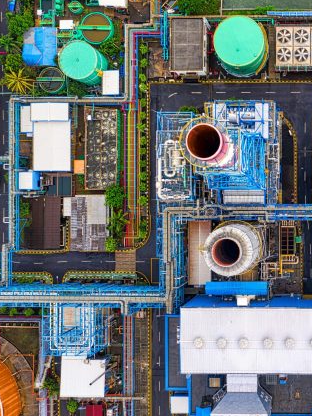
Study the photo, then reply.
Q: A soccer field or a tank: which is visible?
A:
tank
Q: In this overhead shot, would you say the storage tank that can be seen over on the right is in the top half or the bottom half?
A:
top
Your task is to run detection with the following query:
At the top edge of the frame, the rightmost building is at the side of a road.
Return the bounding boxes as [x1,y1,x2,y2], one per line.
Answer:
[170,17,207,82]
